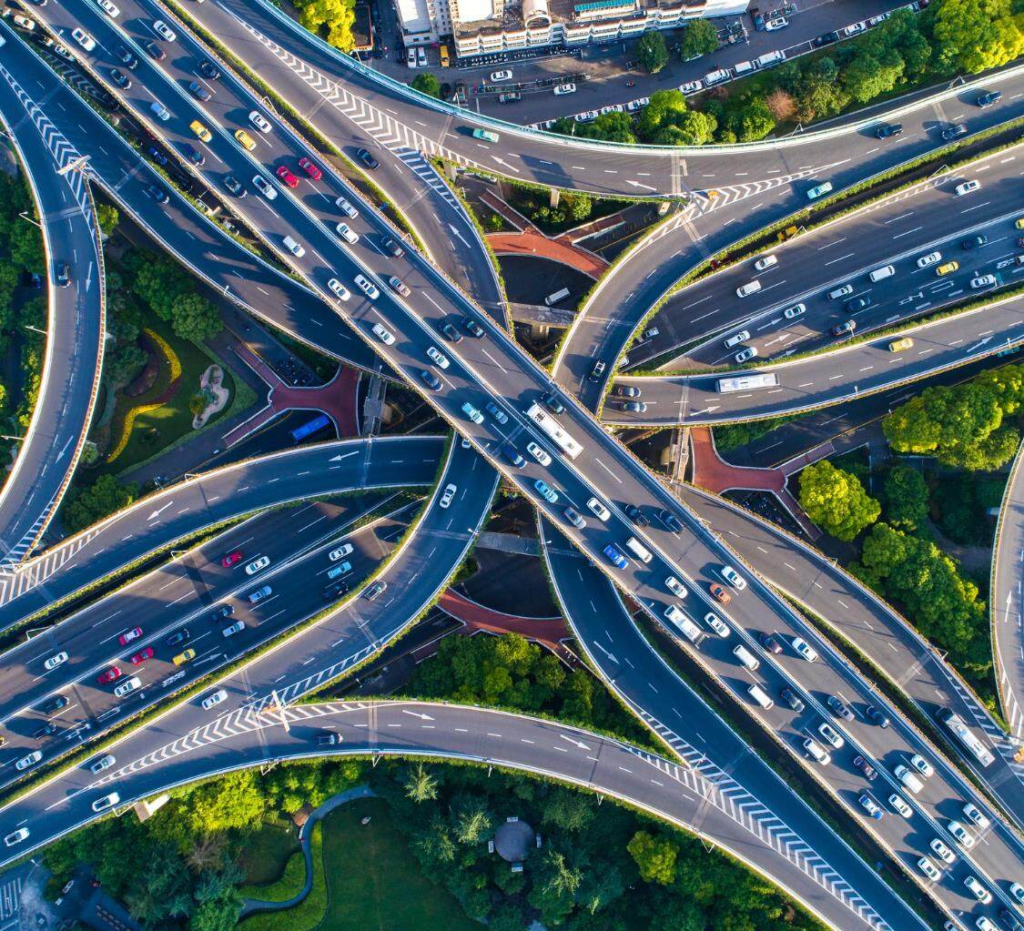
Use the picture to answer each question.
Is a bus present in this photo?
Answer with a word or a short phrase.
Yes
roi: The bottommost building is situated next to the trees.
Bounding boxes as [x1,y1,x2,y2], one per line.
[495,823,533,861]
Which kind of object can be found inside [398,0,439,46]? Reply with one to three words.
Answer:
building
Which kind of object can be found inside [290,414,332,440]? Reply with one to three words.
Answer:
bus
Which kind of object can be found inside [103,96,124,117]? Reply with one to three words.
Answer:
car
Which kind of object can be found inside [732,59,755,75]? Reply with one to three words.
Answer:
vehicle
